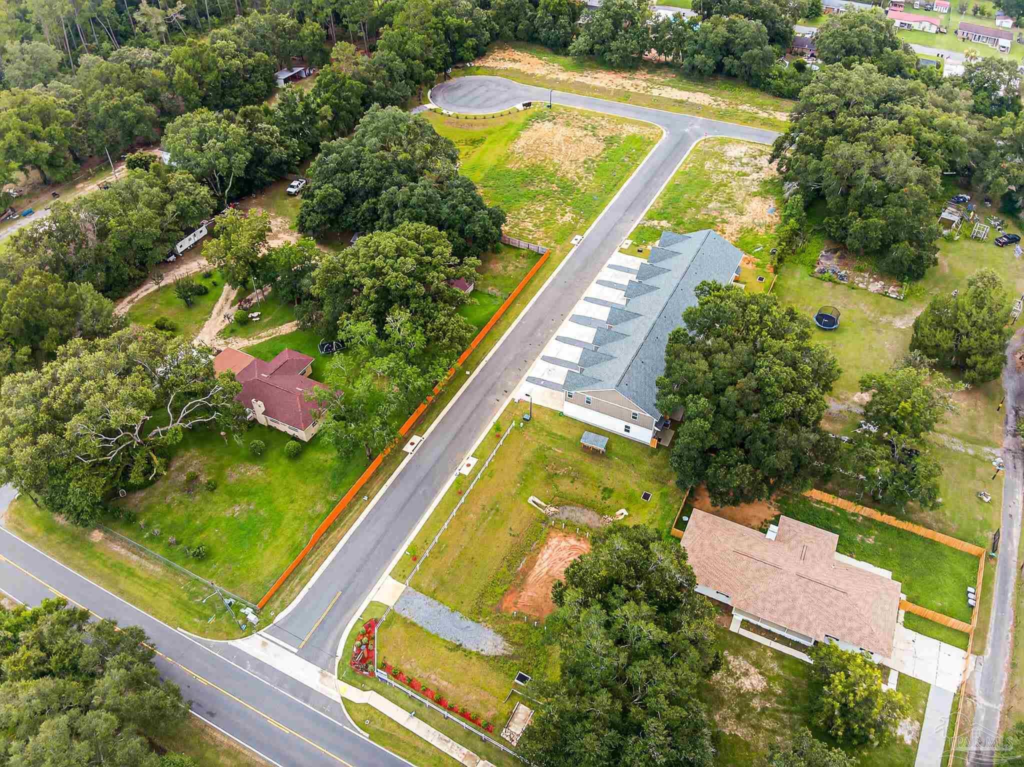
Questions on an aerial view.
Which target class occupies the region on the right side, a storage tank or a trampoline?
trampoline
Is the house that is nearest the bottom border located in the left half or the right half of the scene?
right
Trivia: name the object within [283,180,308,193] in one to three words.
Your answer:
vehicle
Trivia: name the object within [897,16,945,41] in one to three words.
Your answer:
house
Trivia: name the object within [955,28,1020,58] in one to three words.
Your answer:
house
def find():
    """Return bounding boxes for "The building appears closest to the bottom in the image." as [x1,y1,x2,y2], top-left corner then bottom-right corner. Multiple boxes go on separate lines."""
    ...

[676,511,905,668]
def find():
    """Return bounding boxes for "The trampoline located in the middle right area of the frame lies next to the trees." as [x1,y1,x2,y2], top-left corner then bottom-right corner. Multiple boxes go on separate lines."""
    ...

[816,305,843,329]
